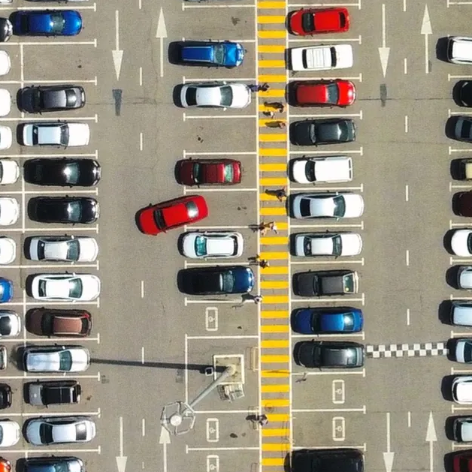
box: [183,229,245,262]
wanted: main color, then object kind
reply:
white car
